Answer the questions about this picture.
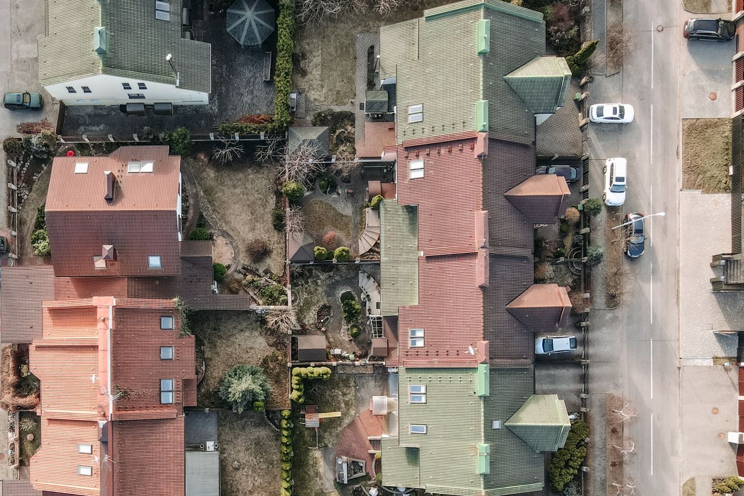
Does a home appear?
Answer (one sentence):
Yes, the image includes a home.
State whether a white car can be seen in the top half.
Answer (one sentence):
Yes, you'll find a white car in the top half.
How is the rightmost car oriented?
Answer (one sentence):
The rightmost car runs horizontally in the image.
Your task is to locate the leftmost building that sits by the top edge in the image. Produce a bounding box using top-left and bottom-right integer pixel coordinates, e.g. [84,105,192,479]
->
[39,0,211,106]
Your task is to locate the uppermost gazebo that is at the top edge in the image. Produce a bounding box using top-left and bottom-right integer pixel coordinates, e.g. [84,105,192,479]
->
[226,0,275,50]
